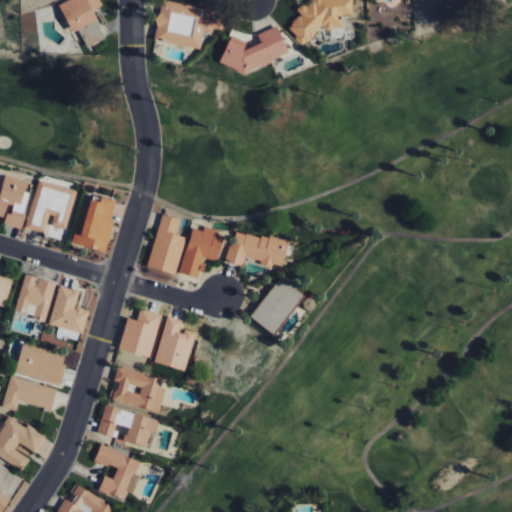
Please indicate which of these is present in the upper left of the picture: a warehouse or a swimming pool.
swimming pool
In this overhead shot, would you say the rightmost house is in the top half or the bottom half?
top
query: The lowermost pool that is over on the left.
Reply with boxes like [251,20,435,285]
[143,475,159,496]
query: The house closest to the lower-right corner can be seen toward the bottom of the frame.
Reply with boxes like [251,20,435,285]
[251,285,306,334]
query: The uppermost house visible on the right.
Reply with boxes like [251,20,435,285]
[291,0,352,44]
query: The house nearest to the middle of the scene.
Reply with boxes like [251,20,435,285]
[226,232,294,270]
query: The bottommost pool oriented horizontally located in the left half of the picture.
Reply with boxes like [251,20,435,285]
[172,388,197,402]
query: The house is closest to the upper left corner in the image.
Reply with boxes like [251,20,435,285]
[60,0,106,50]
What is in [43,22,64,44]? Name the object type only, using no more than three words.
swimming pool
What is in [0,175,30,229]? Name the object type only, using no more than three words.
house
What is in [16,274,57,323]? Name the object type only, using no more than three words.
house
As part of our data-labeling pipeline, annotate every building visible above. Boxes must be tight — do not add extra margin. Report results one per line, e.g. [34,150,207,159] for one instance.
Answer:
[251,285,306,334]
[98,405,156,448]
[0,278,13,308]
[291,0,352,44]
[119,311,162,358]
[147,215,186,276]
[112,367,166,413]
[154,316,197,370]
[3,376,57,412]
[16,274,57,323]
[60,485,108,512]
[0,175,30,229]
[72,196,116,254]
[226,232,294,270]
[60,0,106,50]
[0,465,24,512]
[49,286,89,342]
[95,444,140,502]
[26,176,78,240]
[179,229,222,278]
[16,344,66,386]
[221,27,288,75]
[155,1,224,50]
[0,416,45,469]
